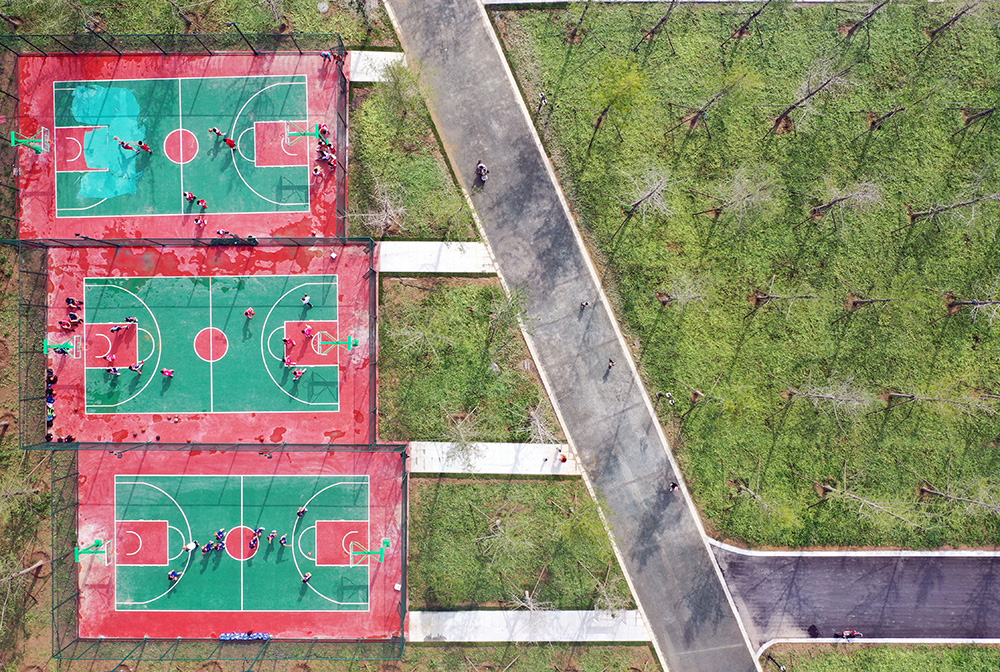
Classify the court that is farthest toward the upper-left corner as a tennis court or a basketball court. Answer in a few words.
basketball court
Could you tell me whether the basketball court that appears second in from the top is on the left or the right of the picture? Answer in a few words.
left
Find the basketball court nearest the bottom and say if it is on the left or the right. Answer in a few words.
left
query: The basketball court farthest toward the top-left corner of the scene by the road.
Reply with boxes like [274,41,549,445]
[19,53,350,246]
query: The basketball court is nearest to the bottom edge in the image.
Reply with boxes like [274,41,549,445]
[78,443,409,640]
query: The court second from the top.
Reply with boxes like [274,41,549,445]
[48,246,378,442]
